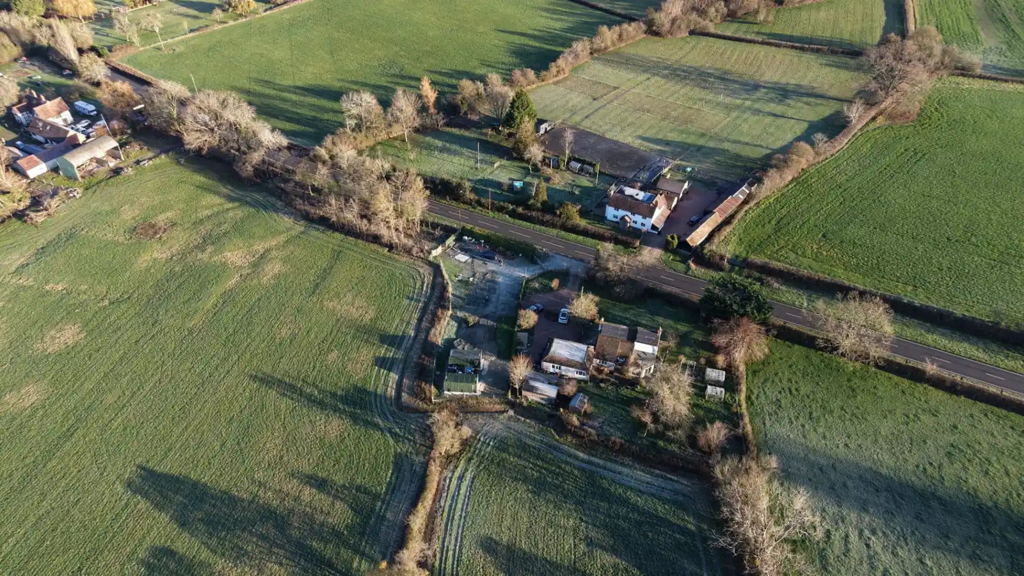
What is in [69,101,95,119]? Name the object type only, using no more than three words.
camper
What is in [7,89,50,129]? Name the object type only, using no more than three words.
house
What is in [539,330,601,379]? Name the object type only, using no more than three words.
house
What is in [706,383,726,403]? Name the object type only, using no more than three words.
greenhouse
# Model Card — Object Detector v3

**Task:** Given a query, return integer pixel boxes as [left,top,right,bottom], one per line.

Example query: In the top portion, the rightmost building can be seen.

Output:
[682,175,757,253]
